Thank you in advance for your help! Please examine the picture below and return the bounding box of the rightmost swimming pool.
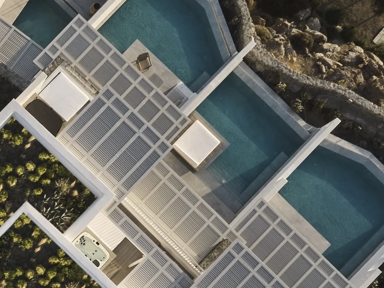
[274,133,384,282]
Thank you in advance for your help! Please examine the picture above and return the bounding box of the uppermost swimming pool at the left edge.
[12,0,78,49]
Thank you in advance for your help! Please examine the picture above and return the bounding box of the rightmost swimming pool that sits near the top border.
[102,0,234,92]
